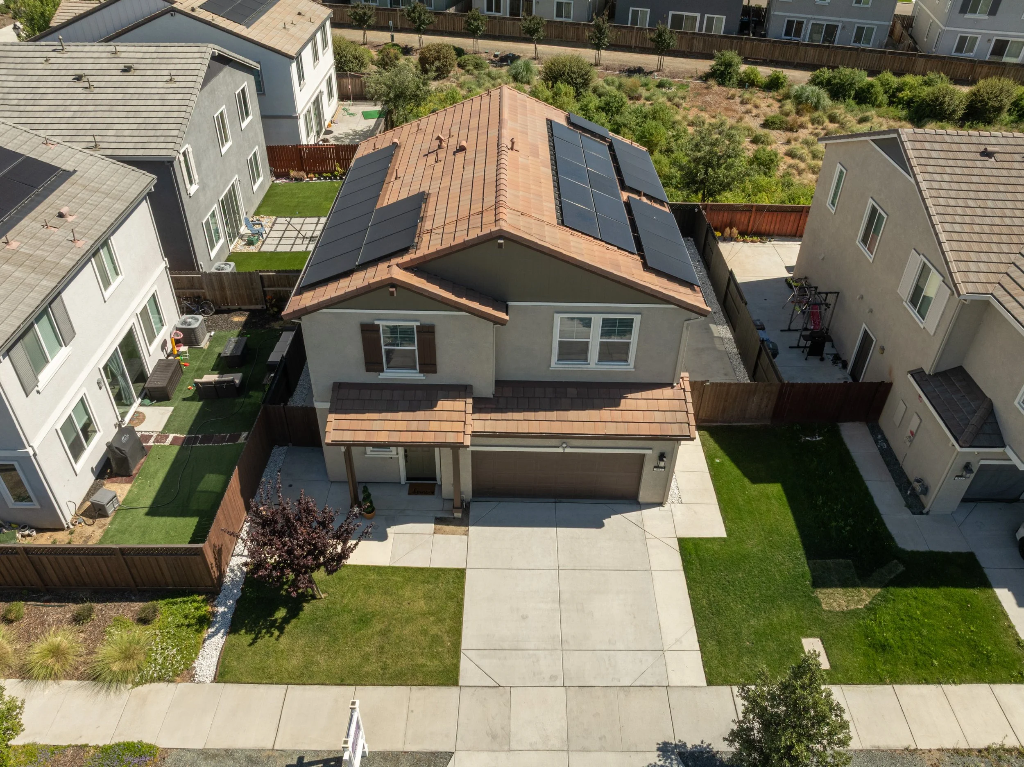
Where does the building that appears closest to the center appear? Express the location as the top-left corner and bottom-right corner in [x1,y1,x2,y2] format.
[280,83,709,515]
